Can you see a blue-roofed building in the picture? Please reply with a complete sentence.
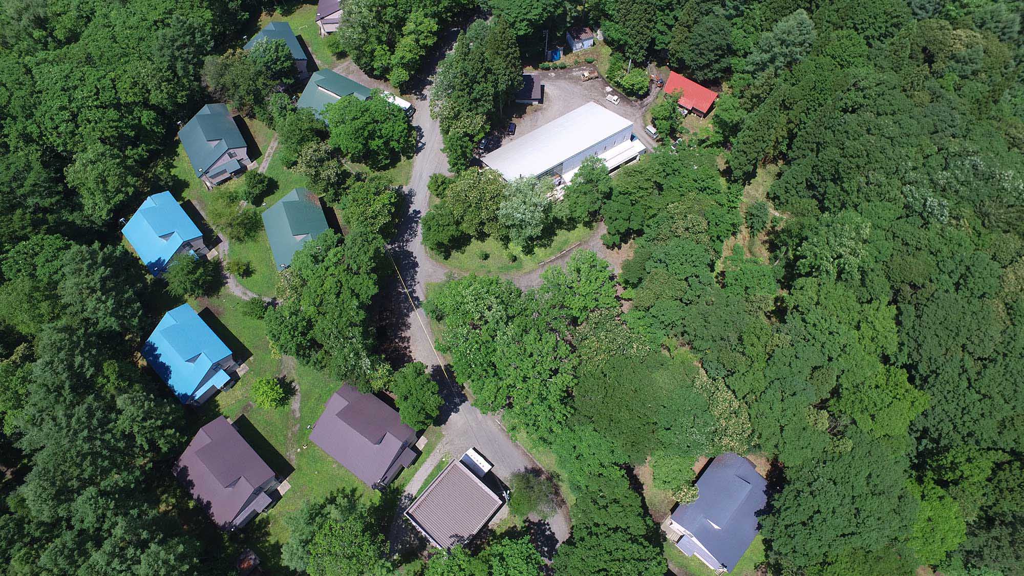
Yes, the frame does contain a blue-roofed building.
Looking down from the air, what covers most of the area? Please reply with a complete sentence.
For the most part, this view shows trees.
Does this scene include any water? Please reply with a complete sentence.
No, there is no water in the image.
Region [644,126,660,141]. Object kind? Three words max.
vehicle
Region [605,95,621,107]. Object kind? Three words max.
vehicle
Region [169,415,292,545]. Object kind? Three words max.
building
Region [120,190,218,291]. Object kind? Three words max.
building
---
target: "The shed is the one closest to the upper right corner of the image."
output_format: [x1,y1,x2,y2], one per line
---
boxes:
[665,70,718,121]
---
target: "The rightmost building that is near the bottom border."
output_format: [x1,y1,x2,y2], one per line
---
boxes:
[664,442,768,576]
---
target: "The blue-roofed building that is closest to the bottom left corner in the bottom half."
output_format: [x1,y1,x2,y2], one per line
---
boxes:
[137,303,249,417]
